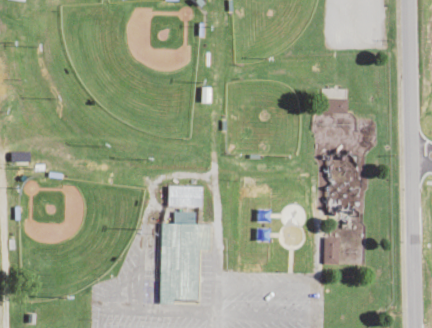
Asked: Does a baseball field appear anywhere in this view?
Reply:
Yes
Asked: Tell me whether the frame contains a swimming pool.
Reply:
No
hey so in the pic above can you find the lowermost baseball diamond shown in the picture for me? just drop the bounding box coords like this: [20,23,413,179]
[20,177,144,299]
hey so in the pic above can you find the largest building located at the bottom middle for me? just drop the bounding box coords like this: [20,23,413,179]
[161,222,212,303]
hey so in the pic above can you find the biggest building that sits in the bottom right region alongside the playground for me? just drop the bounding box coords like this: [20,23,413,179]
[324,238,340,264]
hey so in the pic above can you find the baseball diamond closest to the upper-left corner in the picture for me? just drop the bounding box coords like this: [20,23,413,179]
[62,0,199,138]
